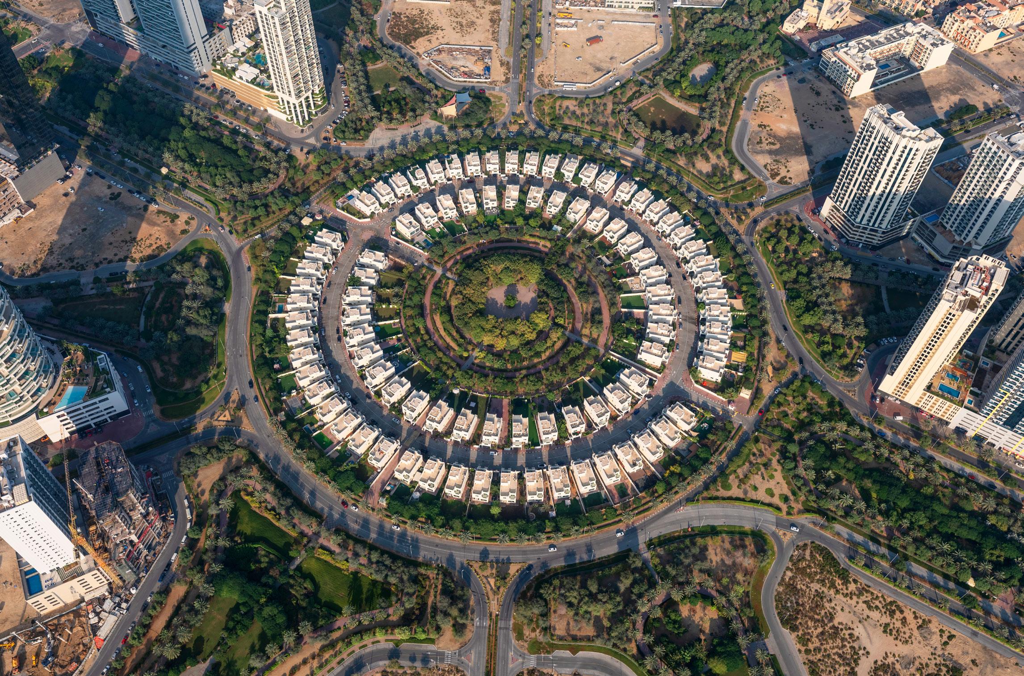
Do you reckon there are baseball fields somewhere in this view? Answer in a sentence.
No, the photo shows no baseball field.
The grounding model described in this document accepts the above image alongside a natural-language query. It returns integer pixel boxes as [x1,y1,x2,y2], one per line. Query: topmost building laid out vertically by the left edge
[0,36,61,166]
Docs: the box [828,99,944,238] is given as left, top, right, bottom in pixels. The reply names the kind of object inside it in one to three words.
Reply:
building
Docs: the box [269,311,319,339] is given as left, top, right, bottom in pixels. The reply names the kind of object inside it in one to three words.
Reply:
house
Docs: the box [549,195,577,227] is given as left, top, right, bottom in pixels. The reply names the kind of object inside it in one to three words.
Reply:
house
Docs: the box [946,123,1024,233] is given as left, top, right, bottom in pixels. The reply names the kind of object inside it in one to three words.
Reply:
building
